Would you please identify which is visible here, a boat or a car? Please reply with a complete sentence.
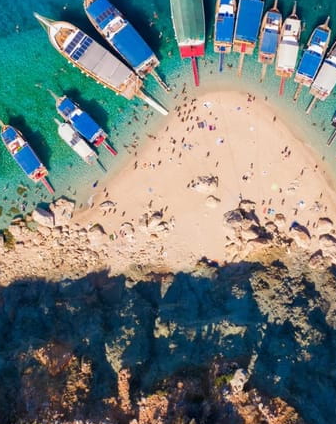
Visible in the photo is a boat.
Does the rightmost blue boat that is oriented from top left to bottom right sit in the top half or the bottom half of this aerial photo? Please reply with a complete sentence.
Seen from above, the rightmost blue boat that is oriented from top left to bottom right lies in the top half of the view.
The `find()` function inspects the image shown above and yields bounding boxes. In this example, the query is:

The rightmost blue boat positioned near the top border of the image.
[294,16,331,101]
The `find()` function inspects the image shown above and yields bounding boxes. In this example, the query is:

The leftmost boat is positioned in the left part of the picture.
[0,120,55,194]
